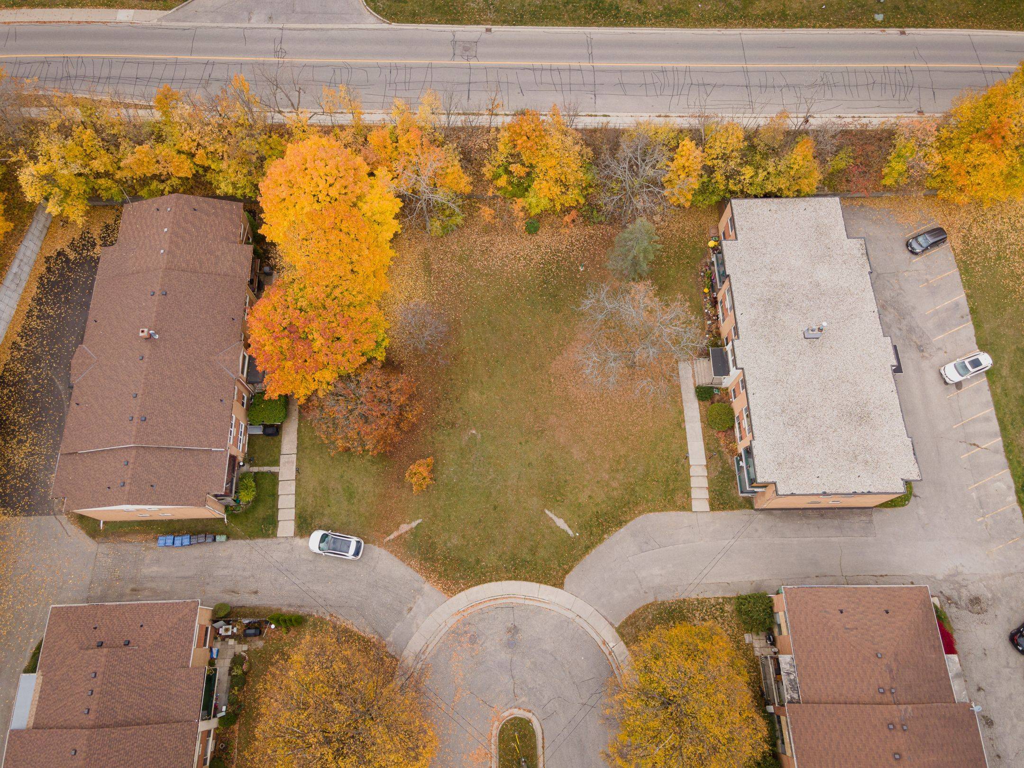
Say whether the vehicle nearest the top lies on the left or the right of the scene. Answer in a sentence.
The vehicle nearest the top sits on the right side.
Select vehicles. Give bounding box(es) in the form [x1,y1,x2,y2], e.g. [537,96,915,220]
[904,221,953,256]
[940,349,997,384]
[1006,628,1024,656]
[308,528,365,560]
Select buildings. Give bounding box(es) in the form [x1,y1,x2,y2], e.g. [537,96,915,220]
[3,601,221,768]
[695,198,922,508]
[53,193,285,535]
[748,585,986,768]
